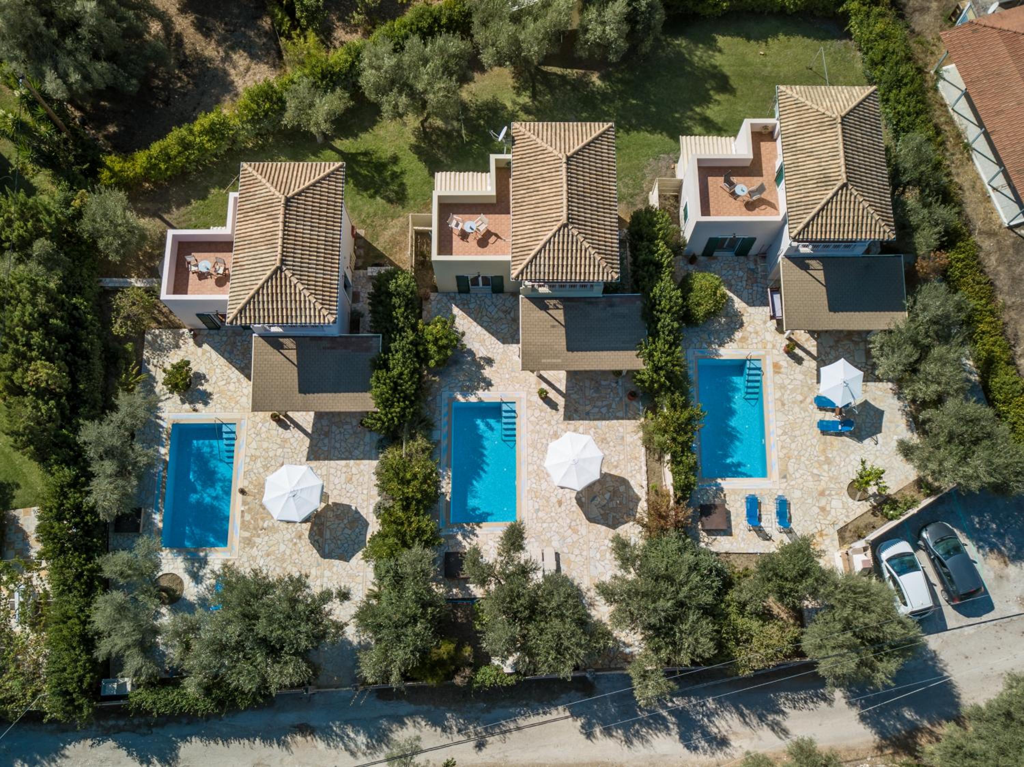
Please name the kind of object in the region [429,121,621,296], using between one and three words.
house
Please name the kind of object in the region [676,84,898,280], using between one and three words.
house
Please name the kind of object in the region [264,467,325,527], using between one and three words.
umbrella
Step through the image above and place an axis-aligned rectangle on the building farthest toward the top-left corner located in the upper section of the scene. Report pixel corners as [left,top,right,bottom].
[161,159,358,337]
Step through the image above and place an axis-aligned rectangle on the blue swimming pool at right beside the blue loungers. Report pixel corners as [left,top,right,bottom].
[686,349,782,488]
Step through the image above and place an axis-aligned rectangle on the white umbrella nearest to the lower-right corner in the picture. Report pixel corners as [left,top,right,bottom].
[816,361,860,436]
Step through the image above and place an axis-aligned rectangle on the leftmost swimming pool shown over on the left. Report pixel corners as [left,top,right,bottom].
[150,413,248,558]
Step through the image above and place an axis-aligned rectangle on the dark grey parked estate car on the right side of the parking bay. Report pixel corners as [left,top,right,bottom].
[920,519,986,607]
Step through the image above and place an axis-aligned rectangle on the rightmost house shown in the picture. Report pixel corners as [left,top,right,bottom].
[931,1,1024,231]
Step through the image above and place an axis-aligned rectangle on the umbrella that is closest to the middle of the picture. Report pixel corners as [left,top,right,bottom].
[544,434,603,493]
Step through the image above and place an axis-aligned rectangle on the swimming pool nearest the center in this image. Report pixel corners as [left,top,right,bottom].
[438,391,527,534]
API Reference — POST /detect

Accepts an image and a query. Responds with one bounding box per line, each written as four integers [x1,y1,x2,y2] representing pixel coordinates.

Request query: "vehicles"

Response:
[920,519,986,607]
[877,536,937,622]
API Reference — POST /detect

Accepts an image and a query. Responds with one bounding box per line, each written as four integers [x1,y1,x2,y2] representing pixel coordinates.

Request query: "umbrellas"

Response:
[544,434,603,493]
[264,467,325,527]
[816,361,860,436]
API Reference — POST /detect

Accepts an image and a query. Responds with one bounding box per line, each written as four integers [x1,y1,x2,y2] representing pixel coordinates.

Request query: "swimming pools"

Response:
[150,413,248,558]
[686,349,782,488]
[438,391,527,534]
